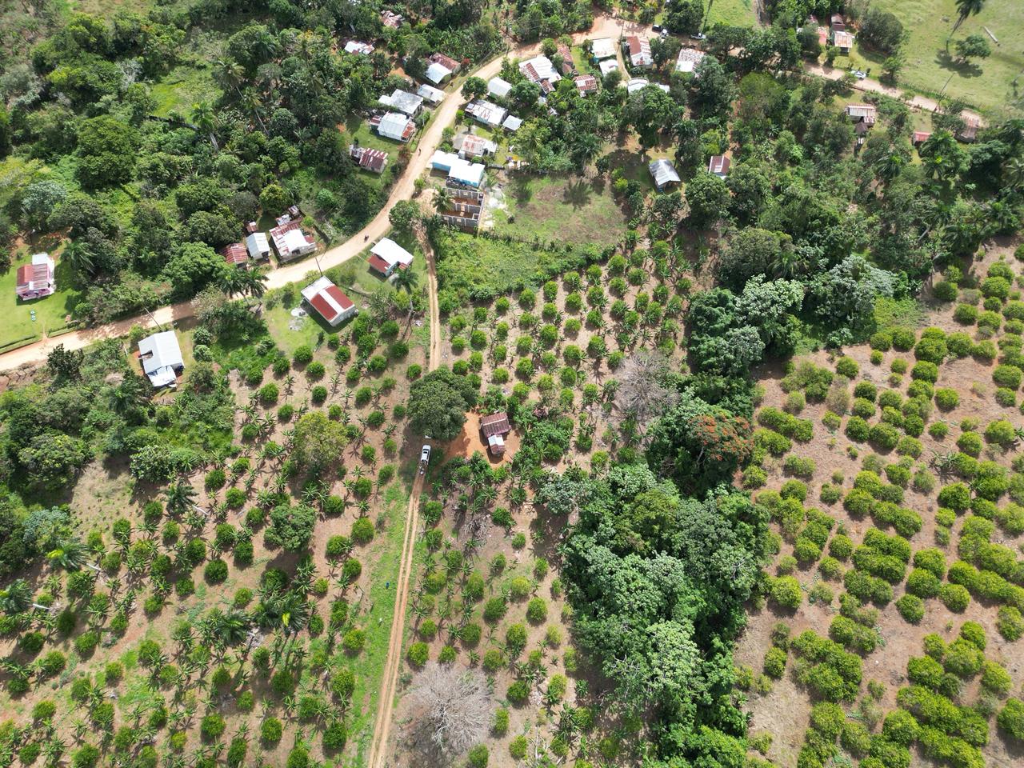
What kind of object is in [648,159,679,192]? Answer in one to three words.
shed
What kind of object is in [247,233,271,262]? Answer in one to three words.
house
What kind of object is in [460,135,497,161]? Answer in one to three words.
house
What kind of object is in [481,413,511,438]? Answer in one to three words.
shed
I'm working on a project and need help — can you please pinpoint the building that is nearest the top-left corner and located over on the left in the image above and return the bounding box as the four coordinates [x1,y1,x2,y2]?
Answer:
[16,252,60,299]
